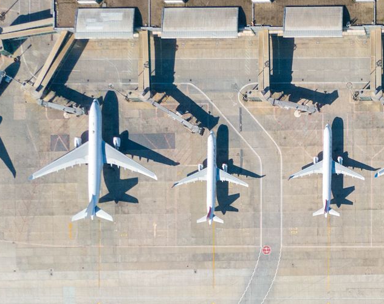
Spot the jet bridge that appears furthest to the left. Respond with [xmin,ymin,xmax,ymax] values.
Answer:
[36,100,88,118]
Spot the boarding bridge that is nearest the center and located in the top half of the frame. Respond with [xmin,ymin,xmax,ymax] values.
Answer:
[149,99,206,135]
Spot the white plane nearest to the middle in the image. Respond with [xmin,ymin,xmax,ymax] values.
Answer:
[172,130,247,224]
